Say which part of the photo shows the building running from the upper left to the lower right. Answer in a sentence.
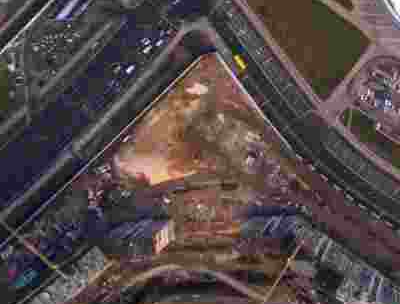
You can find the building running from the upper left to the lower right in the bottom right area of the picture.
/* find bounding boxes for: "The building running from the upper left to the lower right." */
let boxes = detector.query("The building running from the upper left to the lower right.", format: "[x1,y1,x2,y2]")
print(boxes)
[291,211,400,304]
